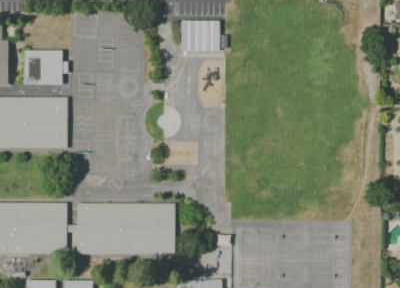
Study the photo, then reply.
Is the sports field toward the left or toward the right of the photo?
right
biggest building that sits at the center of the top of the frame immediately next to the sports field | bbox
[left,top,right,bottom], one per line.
[181,20,220,52]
